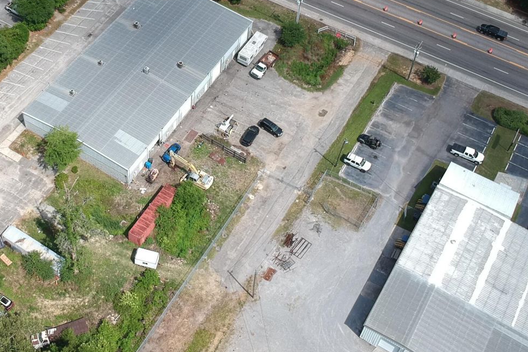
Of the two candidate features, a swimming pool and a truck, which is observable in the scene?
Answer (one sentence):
The one in the frame is a truck.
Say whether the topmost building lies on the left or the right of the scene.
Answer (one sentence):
The topmost building is on the left side of the image.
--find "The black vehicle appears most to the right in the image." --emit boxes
[478,24,507,41]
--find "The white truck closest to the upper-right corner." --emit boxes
[450,142,484,165]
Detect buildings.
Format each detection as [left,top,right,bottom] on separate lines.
[360,185,528,352]
[22,0,253,183]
